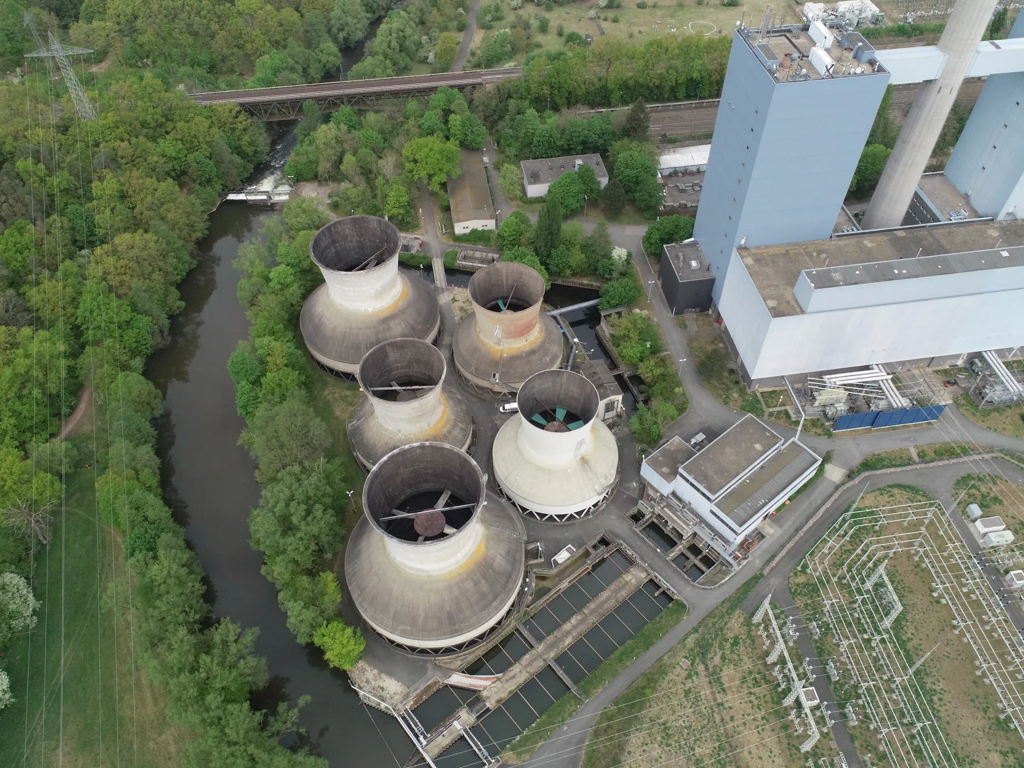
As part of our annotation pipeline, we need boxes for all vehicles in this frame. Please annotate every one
[499,400,518,415]
[942,375,961,388]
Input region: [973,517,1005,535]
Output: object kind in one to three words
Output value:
shed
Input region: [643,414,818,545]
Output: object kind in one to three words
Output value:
building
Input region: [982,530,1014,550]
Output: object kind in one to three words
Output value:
shed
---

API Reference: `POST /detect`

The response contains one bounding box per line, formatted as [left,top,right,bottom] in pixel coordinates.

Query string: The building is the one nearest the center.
[578,360,626,417]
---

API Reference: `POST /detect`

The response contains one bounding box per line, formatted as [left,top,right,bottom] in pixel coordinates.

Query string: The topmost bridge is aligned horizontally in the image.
[151,66,530,124]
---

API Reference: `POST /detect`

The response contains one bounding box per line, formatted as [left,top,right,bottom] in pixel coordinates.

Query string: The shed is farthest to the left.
[445,147,497,236]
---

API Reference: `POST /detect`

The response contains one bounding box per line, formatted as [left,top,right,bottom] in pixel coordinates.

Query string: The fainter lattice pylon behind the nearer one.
[9,12,51,65]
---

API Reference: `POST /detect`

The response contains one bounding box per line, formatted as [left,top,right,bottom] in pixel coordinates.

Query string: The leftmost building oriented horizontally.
[521,153,608,196]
